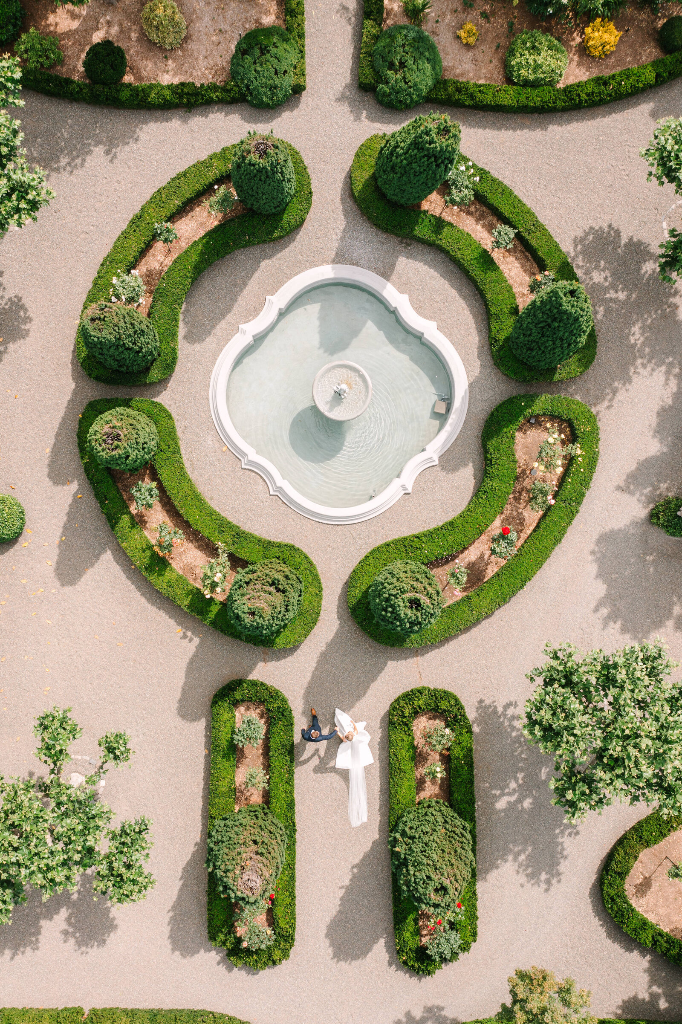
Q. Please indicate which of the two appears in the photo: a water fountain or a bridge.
water fountain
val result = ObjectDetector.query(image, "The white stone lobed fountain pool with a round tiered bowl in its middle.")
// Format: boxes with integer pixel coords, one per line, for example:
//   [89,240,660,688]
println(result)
[210,264,469,524]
